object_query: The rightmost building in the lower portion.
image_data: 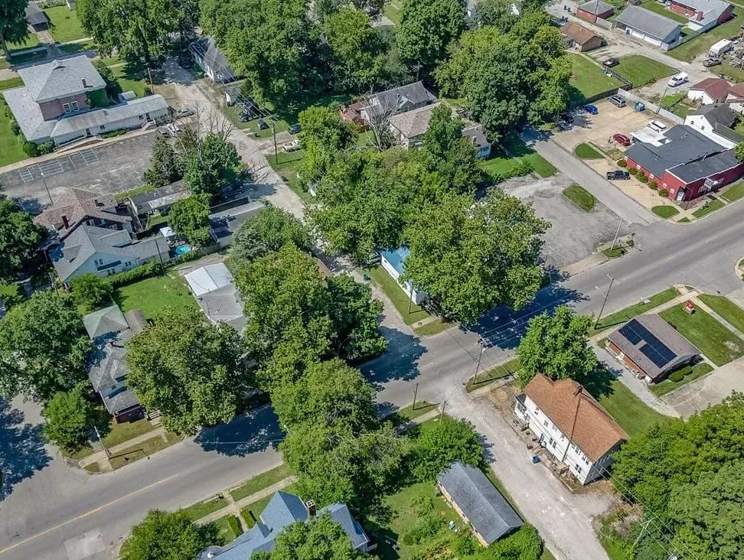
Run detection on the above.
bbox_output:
[606,317,702,388]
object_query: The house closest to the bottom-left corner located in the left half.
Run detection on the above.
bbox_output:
[82,307,151,429]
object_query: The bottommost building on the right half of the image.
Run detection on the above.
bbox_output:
[438,468,527,550]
